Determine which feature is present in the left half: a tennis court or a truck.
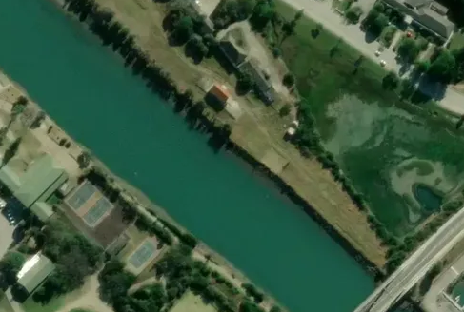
tennis court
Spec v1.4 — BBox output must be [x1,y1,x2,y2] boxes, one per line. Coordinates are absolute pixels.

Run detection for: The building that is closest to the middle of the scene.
[203,84,228,108]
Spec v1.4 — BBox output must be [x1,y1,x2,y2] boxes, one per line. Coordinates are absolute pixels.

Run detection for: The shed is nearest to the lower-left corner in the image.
[17,254,54,292]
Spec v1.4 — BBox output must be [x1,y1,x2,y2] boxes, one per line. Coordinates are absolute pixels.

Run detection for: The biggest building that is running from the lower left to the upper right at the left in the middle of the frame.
[14,154,66,203]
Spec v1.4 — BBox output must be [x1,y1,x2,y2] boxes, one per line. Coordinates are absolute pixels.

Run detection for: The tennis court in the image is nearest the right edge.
[123,235,161,277]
